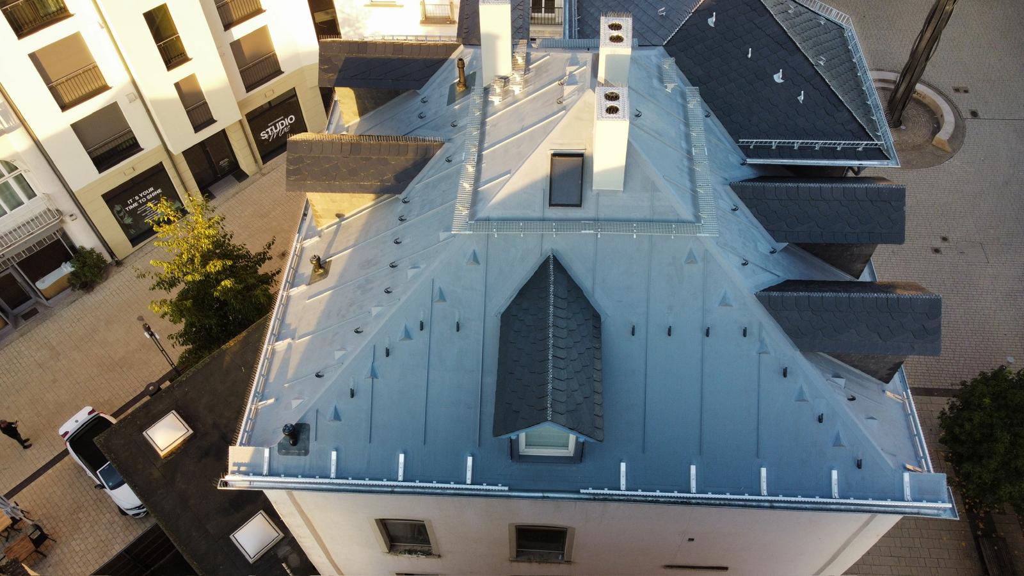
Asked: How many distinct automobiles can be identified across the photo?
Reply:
1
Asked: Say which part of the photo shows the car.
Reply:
bottom left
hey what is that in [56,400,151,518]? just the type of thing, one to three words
car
